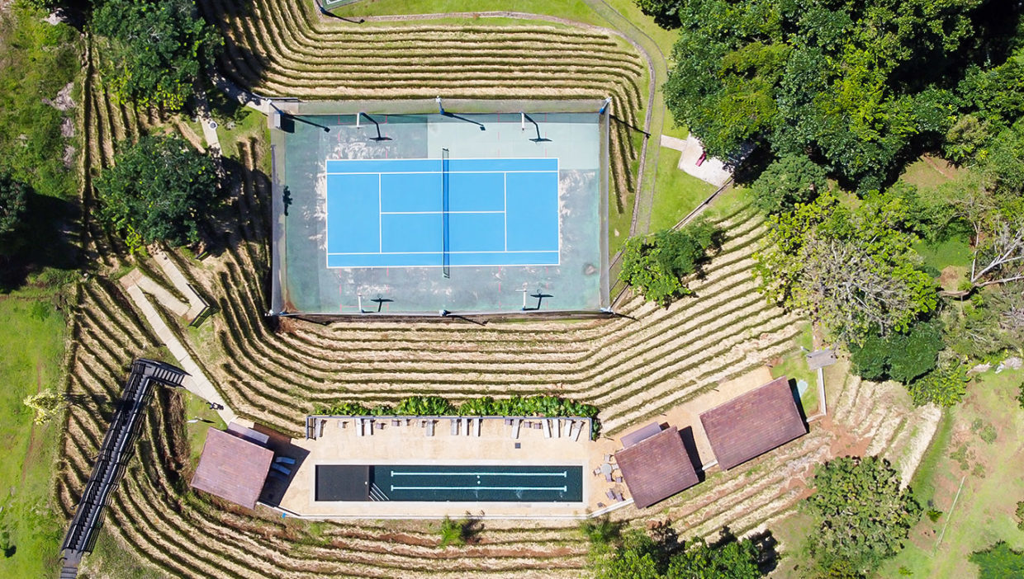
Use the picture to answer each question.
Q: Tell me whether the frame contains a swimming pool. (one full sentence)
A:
Yes, a swimming pool is visible in the scene.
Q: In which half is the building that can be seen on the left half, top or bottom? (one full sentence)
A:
The building that can be seen on the left half is in the bottom half of the image.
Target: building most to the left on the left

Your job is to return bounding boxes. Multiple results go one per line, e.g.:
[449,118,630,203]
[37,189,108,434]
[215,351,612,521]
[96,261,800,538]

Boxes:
[190,419,277,510]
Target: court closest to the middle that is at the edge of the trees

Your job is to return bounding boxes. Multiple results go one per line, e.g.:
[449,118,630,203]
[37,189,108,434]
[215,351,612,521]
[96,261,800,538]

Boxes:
[284,112,602,312]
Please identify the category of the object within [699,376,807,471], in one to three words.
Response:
building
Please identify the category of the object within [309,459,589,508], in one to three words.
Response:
swimming pool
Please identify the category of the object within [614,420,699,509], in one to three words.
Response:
building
